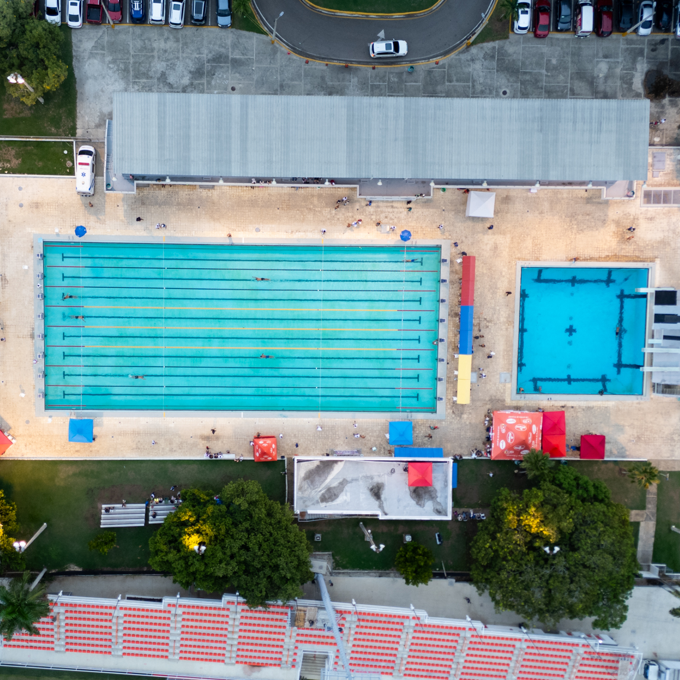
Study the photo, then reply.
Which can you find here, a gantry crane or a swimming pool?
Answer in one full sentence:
The one in the frame is a swimming pool.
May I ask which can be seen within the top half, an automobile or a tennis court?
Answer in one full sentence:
The one visible within the top half is an automobile.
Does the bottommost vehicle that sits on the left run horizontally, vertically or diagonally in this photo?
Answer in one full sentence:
The bottommost vehicle that sits on the left is laid out vertically.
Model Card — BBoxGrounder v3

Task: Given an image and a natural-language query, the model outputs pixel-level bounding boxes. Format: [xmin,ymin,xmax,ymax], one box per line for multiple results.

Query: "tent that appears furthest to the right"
[573,433,606,459]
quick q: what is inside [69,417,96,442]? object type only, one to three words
tent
